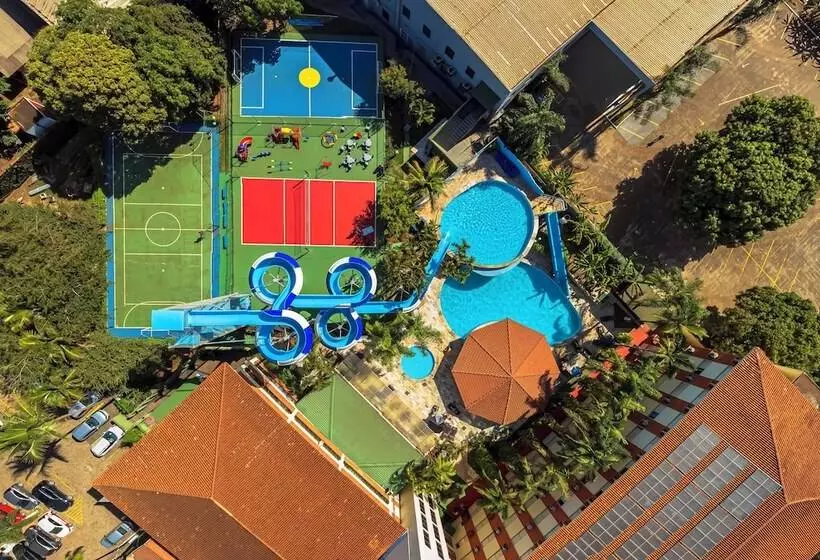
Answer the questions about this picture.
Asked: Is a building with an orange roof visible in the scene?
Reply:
Yes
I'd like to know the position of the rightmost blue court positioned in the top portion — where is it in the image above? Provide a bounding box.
[239,38,378,118]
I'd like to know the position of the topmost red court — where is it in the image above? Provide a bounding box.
[241,177,376,246]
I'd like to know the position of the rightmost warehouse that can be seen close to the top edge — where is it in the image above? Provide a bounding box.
[380,0,751,164]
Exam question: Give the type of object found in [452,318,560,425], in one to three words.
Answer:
building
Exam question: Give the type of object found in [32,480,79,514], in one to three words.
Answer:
car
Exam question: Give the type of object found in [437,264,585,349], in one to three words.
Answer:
swimming pool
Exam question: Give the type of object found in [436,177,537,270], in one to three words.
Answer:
swimming pool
